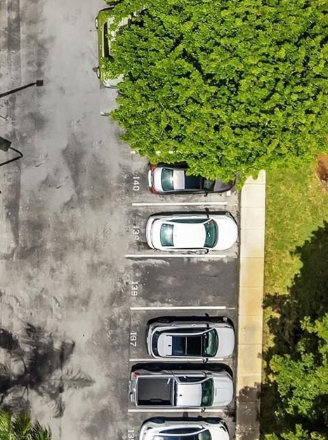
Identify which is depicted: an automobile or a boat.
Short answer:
automobile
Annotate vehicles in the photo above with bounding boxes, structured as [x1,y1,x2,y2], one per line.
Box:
[144,159,236,202]
[143,210,238,256]
[143,314,237,365]
[125,362,236,416]
[136,410,233,440]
